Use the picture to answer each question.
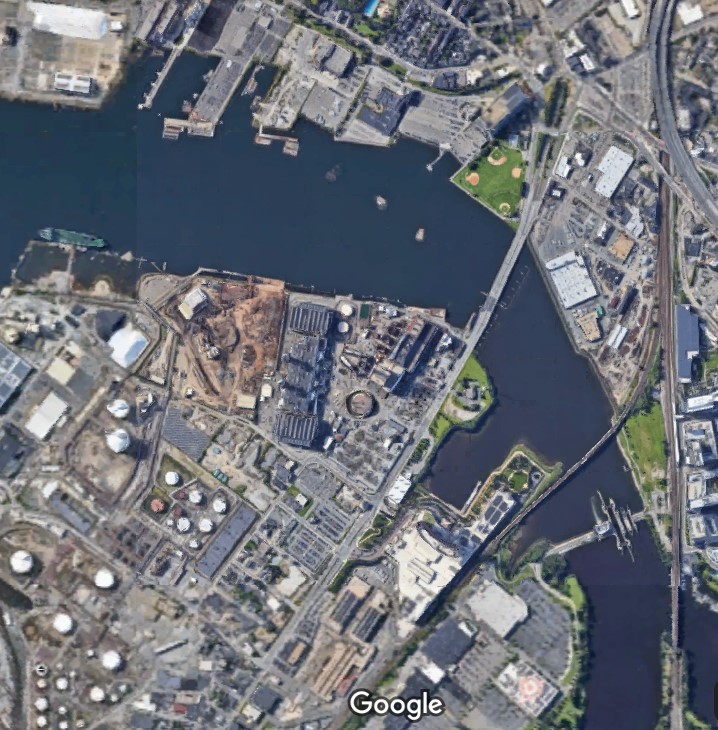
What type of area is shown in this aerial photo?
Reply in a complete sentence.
The picture captures a port.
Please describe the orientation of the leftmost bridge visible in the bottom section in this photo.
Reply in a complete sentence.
The leftmost bridge visible in the bottom section runs at an angle in the image.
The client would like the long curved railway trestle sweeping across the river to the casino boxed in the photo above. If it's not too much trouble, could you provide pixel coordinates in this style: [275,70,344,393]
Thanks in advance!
[498,415,625,538]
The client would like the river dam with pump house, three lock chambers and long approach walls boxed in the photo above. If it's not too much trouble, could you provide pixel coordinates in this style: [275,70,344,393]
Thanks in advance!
[542,488,651,562]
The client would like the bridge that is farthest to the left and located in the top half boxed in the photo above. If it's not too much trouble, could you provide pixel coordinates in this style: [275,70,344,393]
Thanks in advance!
[463,193,536,350]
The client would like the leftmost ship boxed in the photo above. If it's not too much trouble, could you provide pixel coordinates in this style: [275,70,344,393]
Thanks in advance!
[39,229,106,247]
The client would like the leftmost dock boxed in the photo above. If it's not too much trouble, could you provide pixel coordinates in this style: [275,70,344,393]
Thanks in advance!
[11,240,86,282]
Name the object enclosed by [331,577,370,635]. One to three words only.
shed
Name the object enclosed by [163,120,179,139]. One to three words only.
ship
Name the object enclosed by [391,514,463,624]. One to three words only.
building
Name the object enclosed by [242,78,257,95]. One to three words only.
ship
